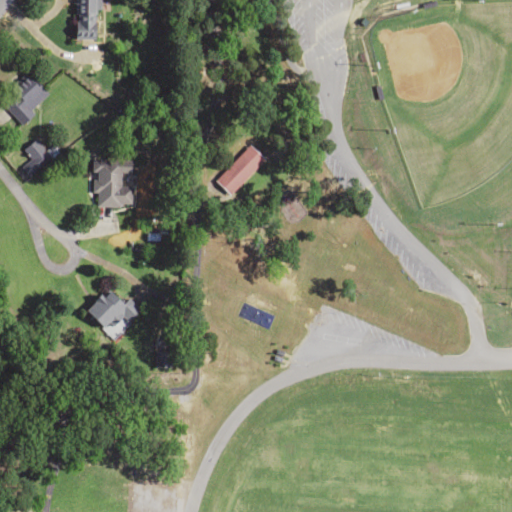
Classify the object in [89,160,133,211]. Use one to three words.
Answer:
house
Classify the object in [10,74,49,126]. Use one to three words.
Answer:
house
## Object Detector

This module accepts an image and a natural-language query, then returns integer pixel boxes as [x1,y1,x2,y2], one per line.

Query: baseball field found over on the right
[365,4,512,208]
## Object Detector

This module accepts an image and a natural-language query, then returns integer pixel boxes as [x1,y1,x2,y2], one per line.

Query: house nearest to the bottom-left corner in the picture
[88,290,141,343]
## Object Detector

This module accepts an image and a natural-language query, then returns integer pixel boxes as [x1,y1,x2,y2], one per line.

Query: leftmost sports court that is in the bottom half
[239,304,274,329]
